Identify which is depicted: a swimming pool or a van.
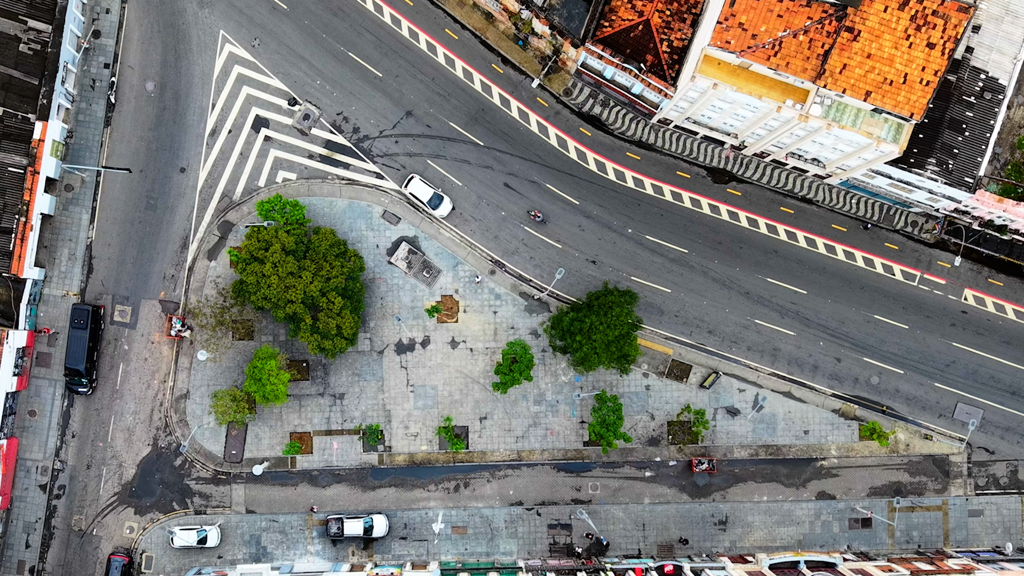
van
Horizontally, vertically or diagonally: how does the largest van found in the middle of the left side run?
vertically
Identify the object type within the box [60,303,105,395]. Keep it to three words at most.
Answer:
van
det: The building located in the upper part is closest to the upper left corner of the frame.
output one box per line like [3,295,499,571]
[0,0,86,128]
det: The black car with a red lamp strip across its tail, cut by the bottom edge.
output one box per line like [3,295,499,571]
[100,550,128,576]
